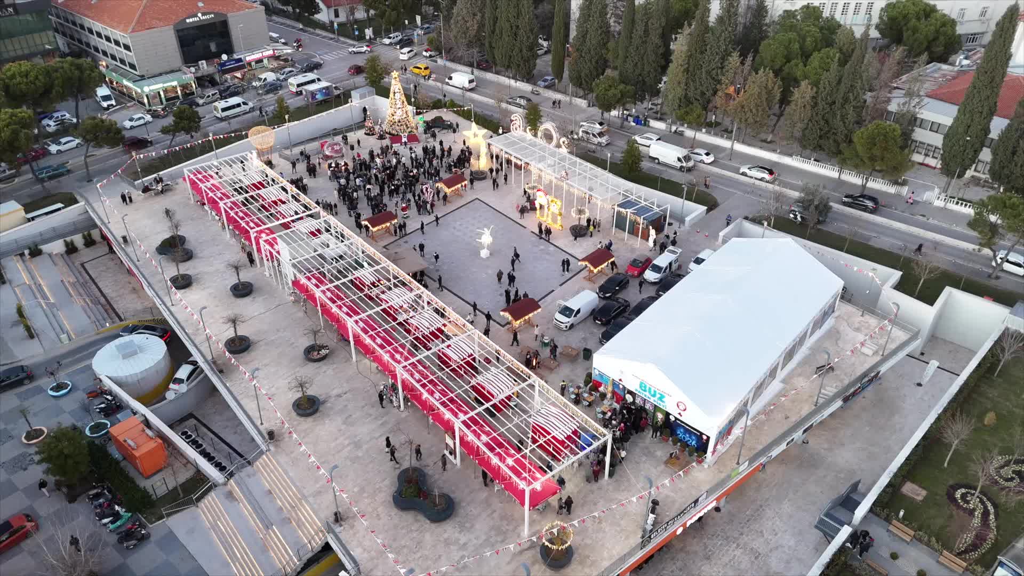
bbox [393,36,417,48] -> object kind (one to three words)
vehicle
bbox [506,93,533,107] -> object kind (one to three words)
car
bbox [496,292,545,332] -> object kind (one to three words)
shed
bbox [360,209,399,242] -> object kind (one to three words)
shed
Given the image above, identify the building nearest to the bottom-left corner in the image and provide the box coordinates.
[90,335,177,412]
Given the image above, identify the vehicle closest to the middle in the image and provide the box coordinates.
[553,284,604,330]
